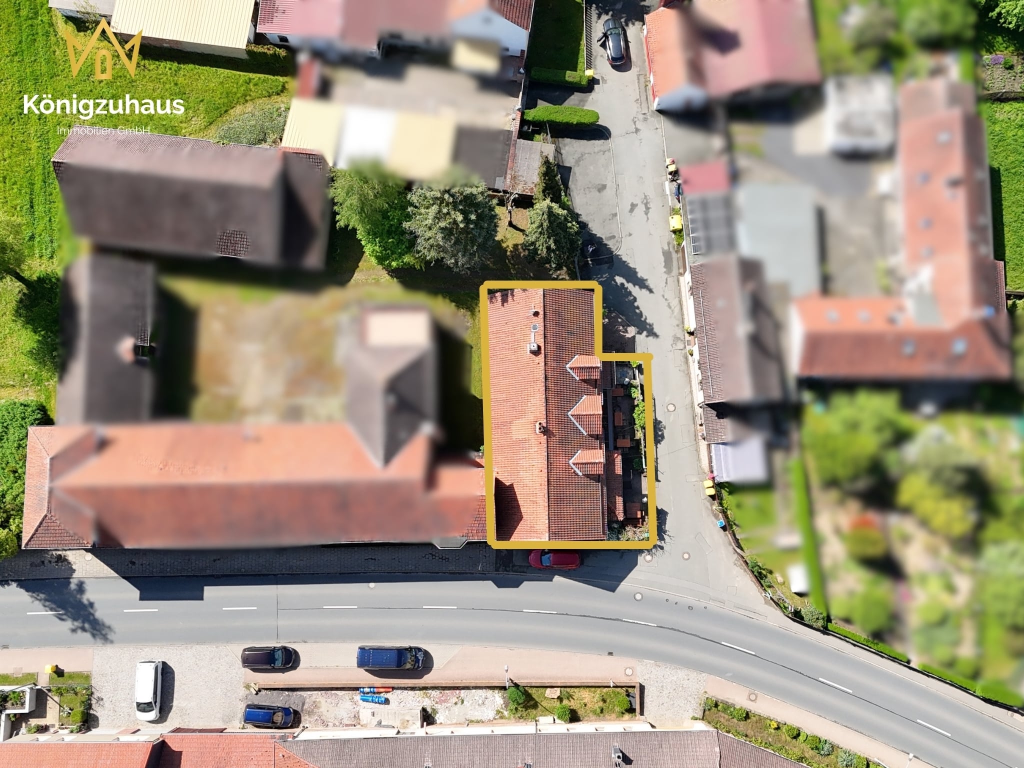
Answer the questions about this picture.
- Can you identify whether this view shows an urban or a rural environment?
urban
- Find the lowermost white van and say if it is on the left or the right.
left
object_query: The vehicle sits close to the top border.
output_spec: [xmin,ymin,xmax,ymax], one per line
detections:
[595,23,629,71]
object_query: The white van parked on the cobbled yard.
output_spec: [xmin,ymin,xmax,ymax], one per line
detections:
[130,659,168,723]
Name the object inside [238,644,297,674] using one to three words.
car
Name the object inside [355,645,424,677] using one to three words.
van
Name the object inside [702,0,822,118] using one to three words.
house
